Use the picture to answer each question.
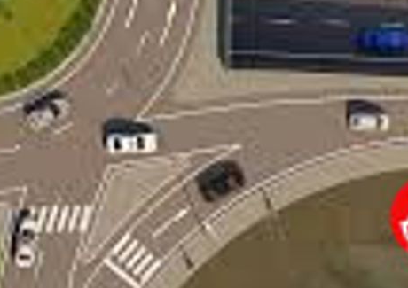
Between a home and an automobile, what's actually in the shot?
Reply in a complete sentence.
It is an automobile that can be seen here.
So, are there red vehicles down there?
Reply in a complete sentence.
No, the scene contains no red vehicle.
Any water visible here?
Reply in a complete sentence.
No, there is no water in the image.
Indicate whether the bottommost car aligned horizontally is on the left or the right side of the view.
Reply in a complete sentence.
You can find the bottommost car aligned horizontally on the left side of the picture.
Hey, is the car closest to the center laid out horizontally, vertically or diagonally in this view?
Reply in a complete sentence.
What the image shows is the car closest to the center lying diagonally.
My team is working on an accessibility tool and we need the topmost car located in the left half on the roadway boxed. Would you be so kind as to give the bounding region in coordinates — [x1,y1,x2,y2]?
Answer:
[24,96,68,130]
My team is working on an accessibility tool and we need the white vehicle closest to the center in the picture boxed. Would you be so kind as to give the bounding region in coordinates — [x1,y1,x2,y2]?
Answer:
[104,131,153,152]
